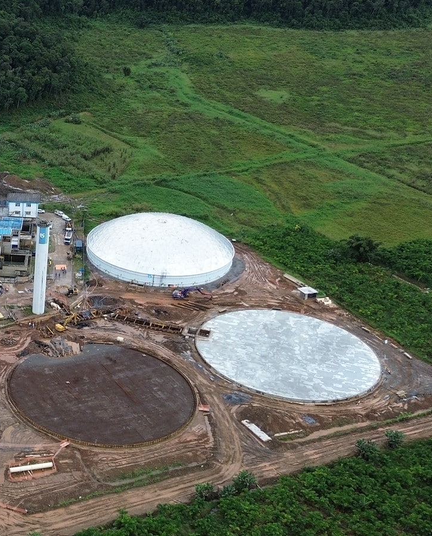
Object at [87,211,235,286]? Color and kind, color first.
white storage tank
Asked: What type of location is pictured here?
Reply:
industrial area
